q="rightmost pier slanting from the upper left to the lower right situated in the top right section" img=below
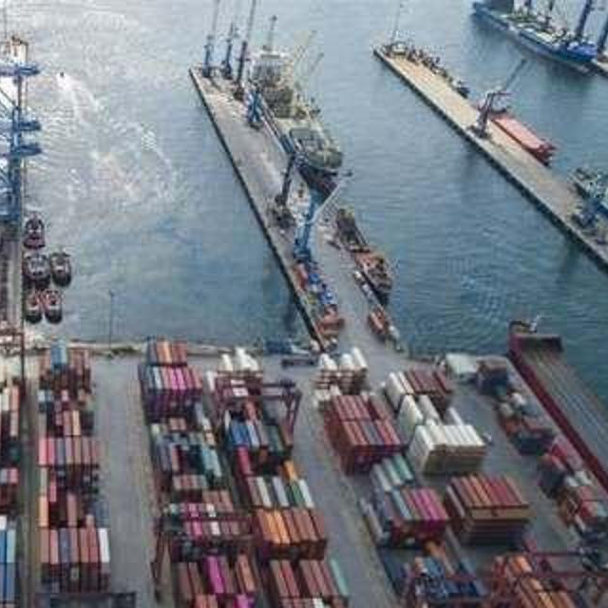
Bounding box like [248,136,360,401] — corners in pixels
[375,43,608,273]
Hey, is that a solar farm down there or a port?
port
